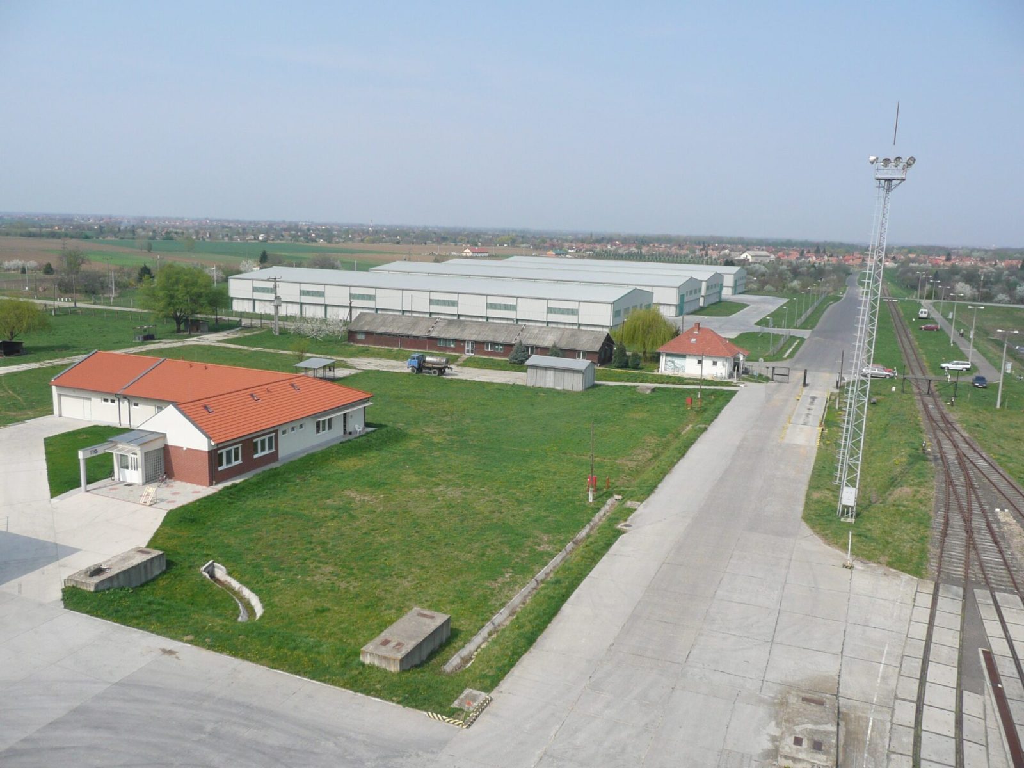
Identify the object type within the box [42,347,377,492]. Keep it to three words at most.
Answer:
building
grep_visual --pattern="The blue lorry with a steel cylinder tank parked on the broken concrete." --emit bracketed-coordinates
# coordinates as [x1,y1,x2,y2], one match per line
[408,352,457,375]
